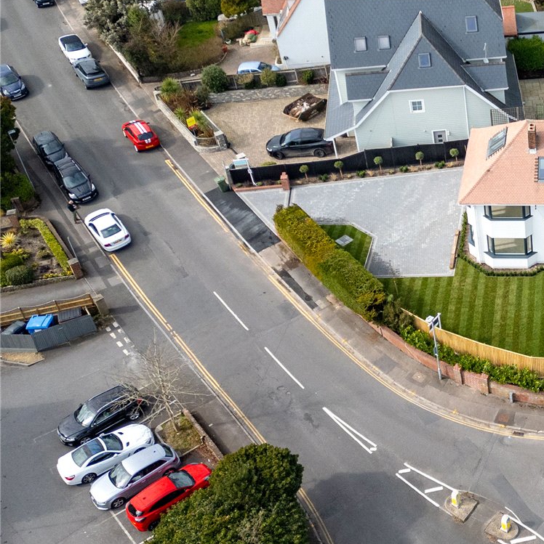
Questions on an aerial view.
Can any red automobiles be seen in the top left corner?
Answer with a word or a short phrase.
Yes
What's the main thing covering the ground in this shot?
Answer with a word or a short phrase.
paved ground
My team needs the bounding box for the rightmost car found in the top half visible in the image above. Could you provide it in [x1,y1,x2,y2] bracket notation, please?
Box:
[265,127,334,157]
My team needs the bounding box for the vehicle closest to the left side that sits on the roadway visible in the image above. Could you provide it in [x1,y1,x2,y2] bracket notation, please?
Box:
[0,60,31,100]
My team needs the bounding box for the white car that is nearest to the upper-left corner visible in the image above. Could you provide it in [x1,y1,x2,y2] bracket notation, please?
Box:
[57,33,92,65]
